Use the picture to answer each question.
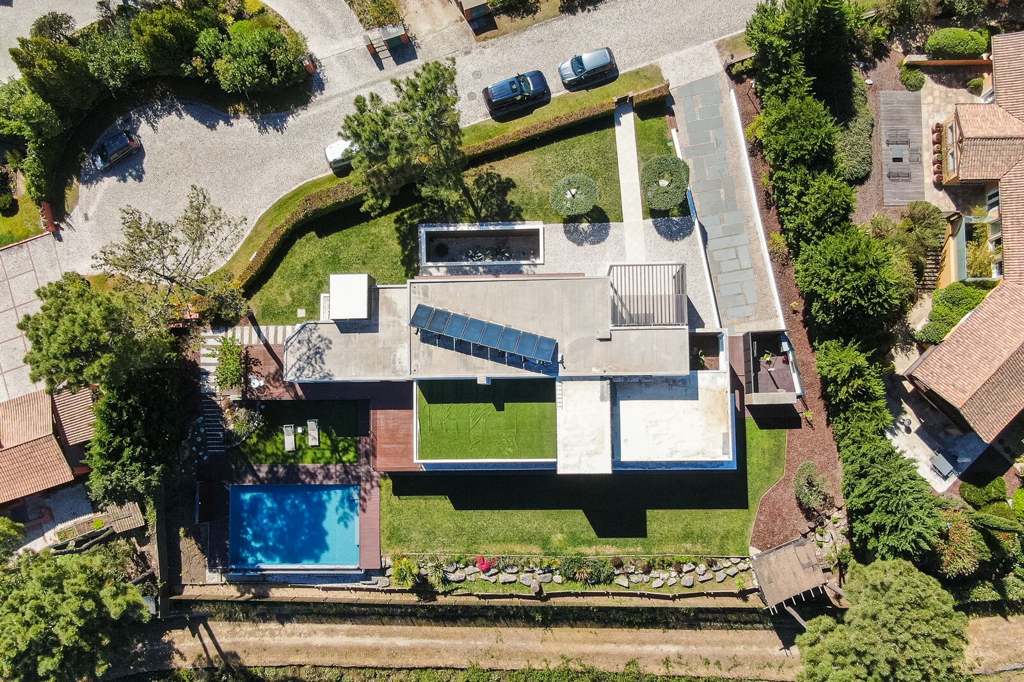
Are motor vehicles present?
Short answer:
Yes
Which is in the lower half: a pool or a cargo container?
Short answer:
pool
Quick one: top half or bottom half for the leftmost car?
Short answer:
top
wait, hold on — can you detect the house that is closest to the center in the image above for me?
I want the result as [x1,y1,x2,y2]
[283,273,737,474]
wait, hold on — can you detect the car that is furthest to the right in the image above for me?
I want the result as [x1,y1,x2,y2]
[555,47,620,90]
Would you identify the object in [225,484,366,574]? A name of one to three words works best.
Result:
swimming pool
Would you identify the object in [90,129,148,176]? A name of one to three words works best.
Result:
car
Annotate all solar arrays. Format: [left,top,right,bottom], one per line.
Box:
[410,305,555,364]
